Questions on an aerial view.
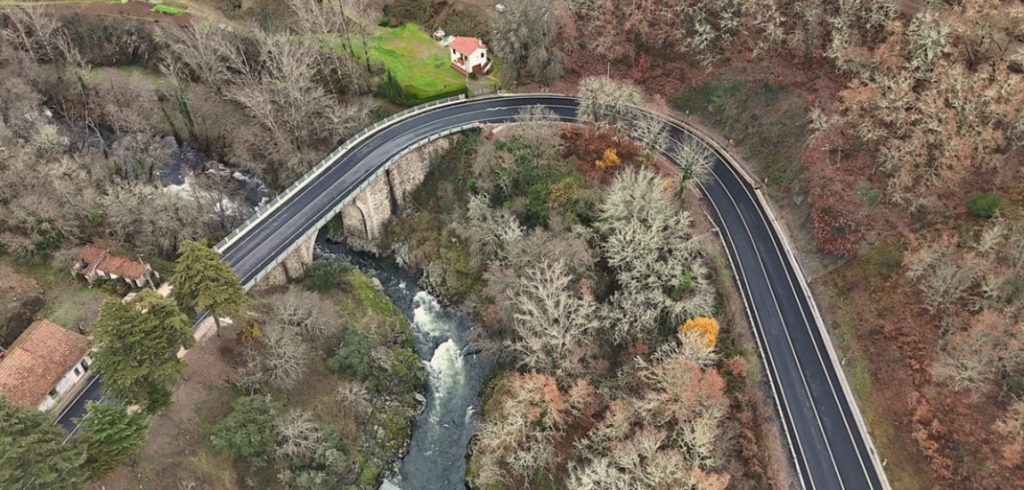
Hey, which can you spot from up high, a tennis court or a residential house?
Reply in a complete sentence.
It is a residential house that can be seen here.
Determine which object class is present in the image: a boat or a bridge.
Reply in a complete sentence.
I can see a bridge in this picture.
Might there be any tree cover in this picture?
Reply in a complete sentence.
Yes, some tree cover is visible.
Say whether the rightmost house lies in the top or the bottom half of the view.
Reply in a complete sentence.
It is in the top half that the rightmost house appears.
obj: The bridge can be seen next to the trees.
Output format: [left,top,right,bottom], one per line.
[152,89,466,312]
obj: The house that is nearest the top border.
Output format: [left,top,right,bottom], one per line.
[444,36,493,77]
